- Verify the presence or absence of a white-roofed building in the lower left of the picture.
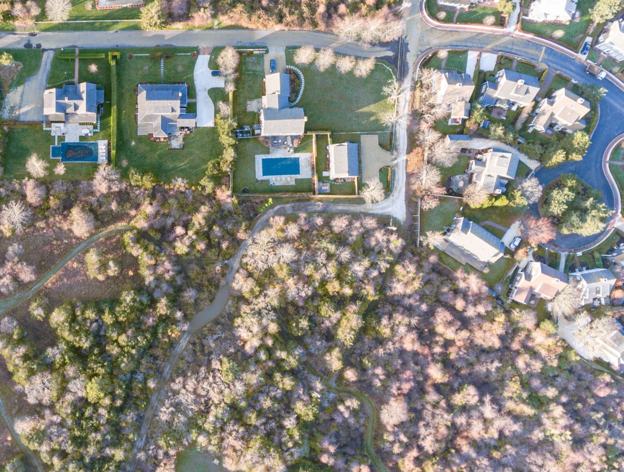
No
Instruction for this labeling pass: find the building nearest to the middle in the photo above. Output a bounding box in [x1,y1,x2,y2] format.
[322,142,359,178]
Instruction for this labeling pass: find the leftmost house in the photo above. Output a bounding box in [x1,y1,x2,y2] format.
[44,80,105,123]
